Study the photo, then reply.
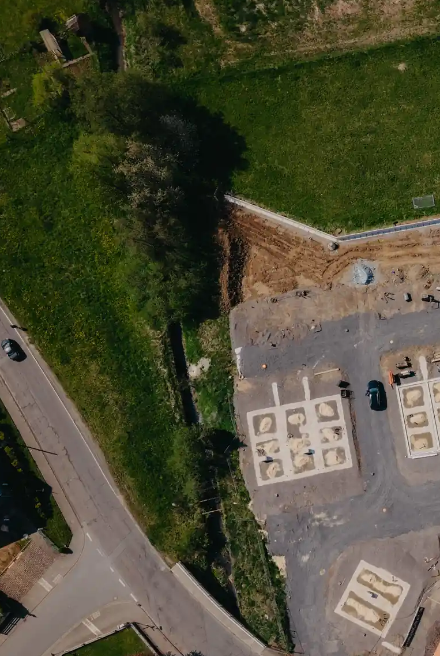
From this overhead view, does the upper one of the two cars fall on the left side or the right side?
left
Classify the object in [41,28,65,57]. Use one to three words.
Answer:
shed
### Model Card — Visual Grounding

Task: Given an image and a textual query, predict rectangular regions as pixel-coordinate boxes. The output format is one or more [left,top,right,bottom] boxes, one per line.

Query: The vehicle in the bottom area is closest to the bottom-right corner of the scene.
[368,380,384,411]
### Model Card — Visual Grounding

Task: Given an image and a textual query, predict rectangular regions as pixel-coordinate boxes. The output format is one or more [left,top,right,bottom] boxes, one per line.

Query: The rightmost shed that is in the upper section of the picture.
[66,14,90,40]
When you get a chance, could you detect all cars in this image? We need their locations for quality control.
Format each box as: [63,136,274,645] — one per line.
[3,337,25,362]
[368,380,384,411]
